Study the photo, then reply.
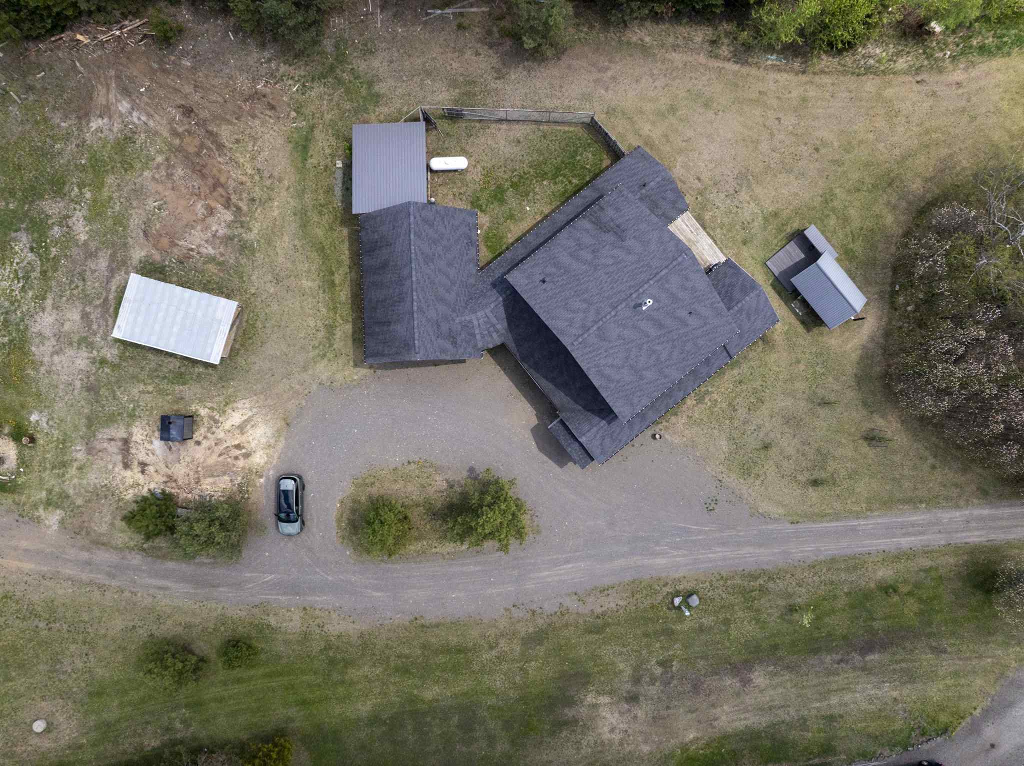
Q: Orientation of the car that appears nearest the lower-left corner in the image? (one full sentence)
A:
The car that appears nearest the lower-left corner has been laid out vertically relative to the frame.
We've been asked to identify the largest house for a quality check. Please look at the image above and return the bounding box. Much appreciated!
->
[358,144,781,469]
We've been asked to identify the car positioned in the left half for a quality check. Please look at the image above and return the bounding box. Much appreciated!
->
[274,473,306,536]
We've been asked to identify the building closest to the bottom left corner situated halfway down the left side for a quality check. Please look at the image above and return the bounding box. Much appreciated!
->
[160,415,195,441]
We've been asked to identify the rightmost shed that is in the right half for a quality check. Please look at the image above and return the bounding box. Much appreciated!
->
[789,225,867,330]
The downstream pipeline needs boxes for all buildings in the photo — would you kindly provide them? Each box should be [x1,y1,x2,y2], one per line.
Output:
[160,415,195,441]
[358,144,781,469]
[112,274,248,364]
[789,225,867,330]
